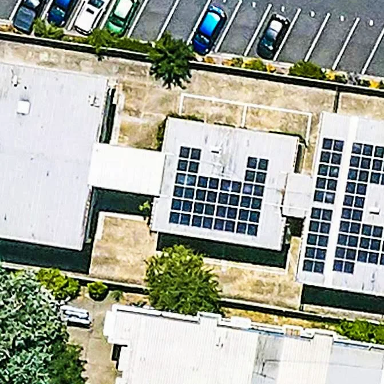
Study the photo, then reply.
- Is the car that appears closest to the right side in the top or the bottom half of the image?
top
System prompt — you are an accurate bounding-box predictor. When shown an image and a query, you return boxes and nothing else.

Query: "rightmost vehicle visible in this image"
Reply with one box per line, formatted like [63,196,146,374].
[258,13,291,60]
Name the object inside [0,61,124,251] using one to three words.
building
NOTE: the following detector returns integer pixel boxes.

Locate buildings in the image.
[0,61,124,251]
[104,305,384,384]
[296,111,384,297]
[150,116,304,252]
